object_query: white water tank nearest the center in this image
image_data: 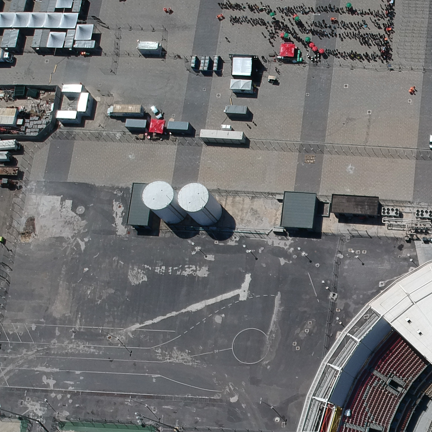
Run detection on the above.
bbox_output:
[177,182,223,225]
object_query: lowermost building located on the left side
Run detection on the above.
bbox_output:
[127,184,154,229]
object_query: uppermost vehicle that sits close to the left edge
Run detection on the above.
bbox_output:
[0,50,13,63]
